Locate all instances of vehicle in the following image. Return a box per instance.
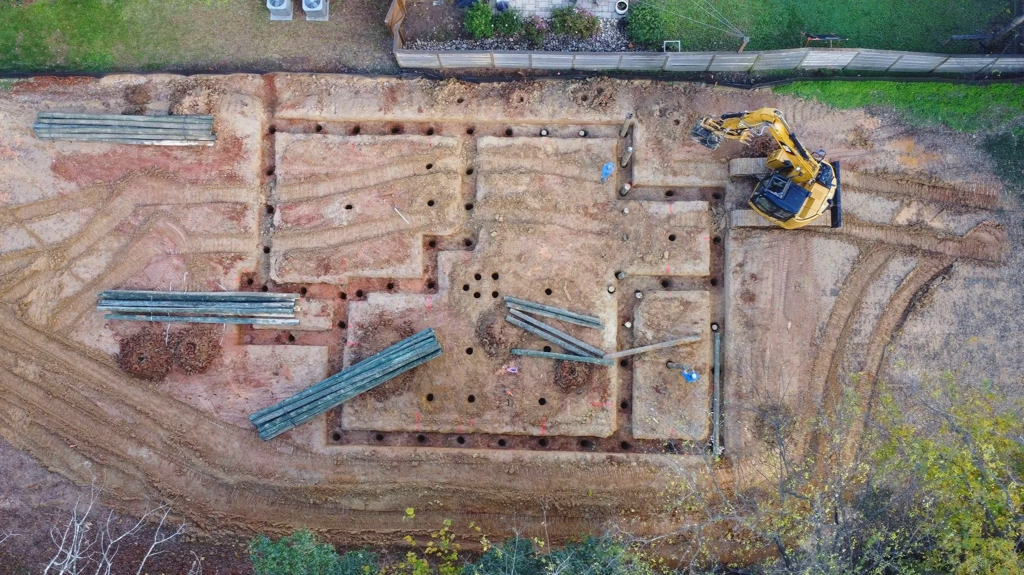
[693,95,845,234]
